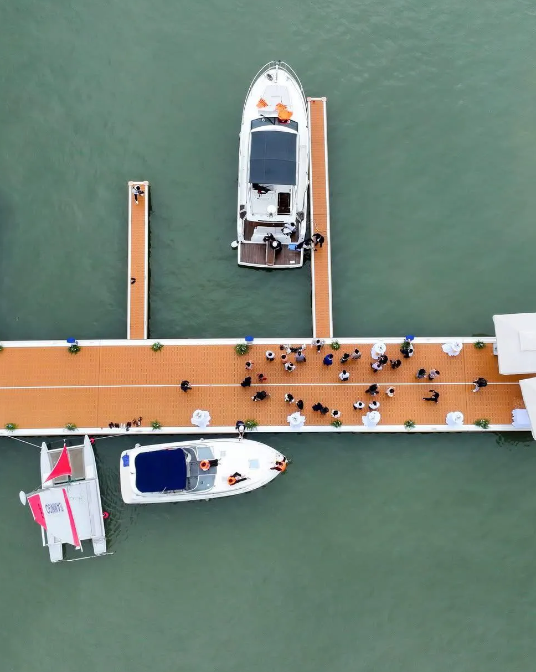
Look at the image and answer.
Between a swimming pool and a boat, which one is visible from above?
boat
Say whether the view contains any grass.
No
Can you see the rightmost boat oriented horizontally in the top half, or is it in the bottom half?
bottom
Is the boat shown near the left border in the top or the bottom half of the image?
bottom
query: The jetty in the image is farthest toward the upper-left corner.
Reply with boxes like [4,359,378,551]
[125,180,154,339]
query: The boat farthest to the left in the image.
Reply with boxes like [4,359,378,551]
[22,434,115,565]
